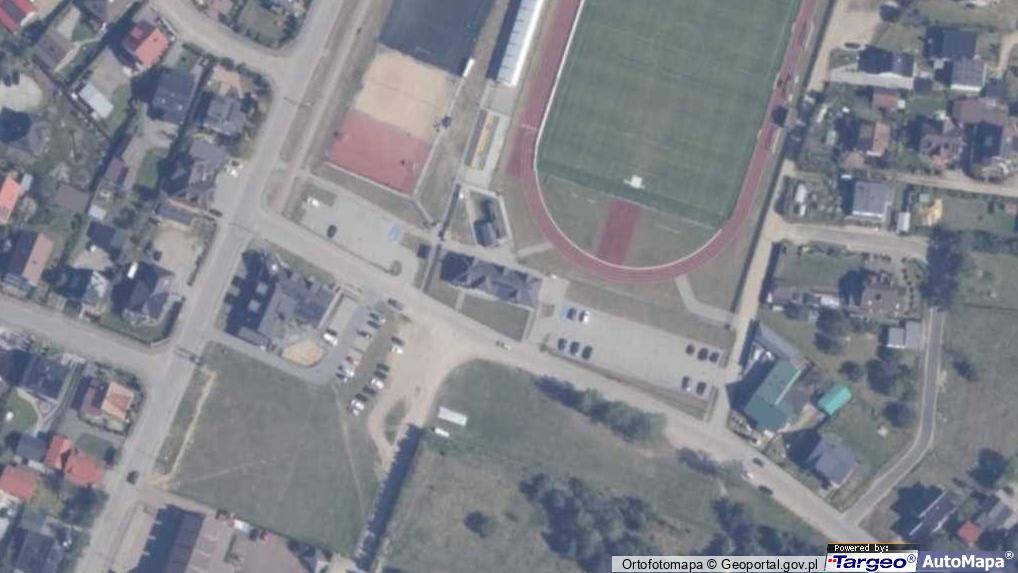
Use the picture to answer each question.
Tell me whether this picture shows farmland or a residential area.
residential area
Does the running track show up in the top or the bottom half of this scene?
top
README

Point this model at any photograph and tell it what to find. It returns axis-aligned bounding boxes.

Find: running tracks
[505,0,809,284]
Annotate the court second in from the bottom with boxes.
[353,42,462,142]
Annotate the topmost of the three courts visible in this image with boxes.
[379,0,494,76]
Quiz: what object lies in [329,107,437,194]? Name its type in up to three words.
sports court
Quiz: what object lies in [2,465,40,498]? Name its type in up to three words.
house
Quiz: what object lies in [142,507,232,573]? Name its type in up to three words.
building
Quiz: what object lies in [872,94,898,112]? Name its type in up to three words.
shed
